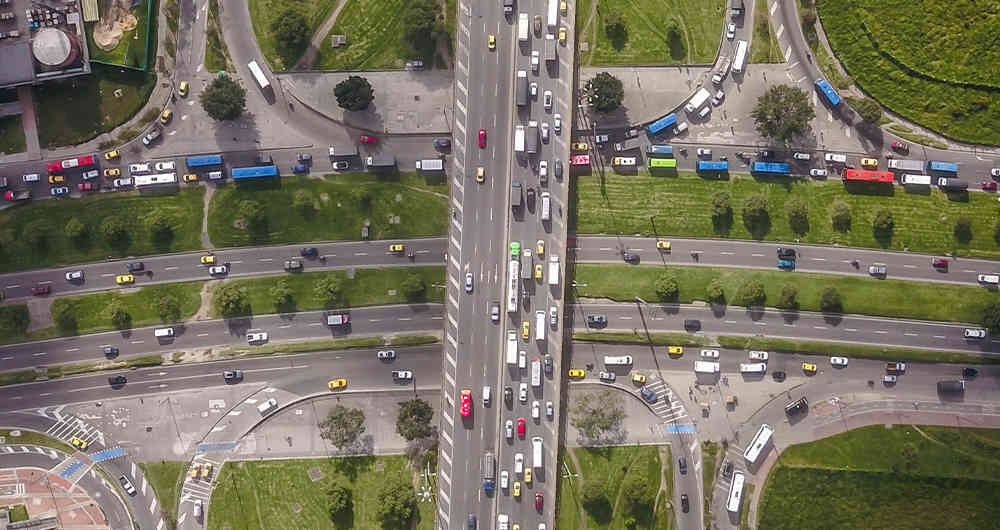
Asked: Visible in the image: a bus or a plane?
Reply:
bus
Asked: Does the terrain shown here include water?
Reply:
No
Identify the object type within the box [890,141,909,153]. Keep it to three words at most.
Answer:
vehicle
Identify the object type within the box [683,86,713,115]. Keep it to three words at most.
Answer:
truck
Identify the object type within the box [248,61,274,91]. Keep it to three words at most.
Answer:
bus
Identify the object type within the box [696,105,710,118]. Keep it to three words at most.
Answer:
vehicle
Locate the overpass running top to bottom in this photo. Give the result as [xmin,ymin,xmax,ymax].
[437,0,576,530]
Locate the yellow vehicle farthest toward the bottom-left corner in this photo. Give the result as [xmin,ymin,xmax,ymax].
[71,434,89,448]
